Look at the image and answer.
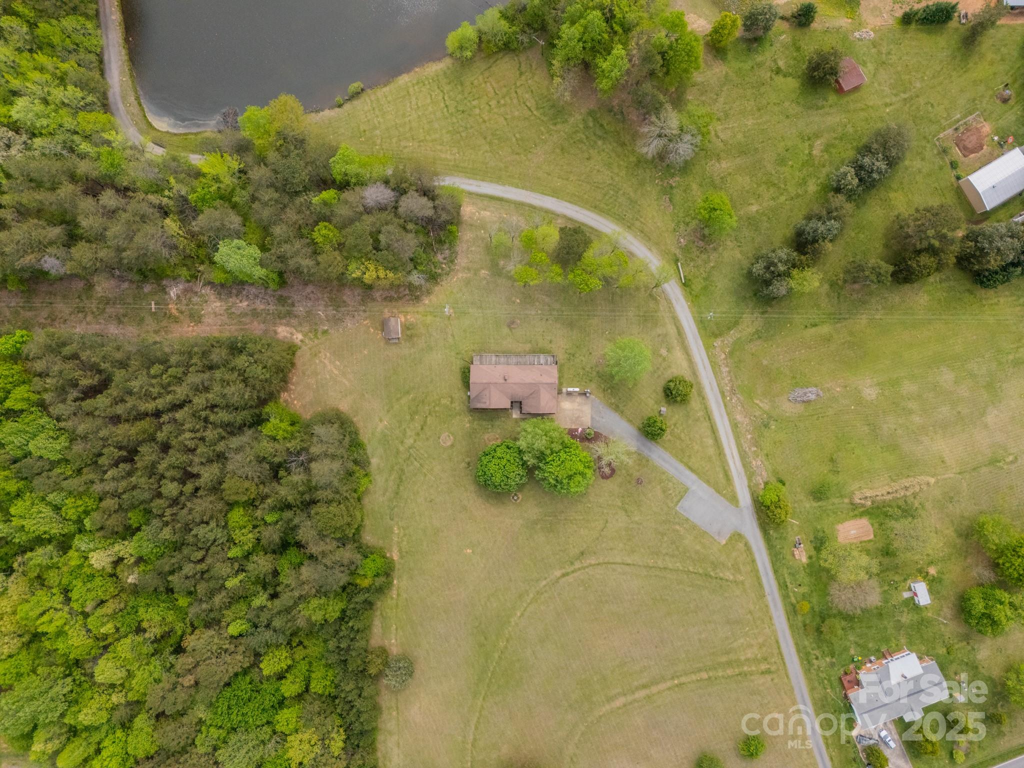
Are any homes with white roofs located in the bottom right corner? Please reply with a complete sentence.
Yes, a home with a white roof shows up in the bottom right corner.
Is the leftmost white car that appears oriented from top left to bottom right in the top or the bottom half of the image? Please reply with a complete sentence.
It is in the bottom half that the leftmost white car that appears oriented from top left to bottom right appears.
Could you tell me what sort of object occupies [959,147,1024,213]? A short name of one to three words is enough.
barn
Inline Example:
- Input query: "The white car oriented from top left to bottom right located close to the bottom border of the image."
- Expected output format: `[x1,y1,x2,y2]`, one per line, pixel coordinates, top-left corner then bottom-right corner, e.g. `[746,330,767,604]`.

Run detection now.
[879,728,901,753]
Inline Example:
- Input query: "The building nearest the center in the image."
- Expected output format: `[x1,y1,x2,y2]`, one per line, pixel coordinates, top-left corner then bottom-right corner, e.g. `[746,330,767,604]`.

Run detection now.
[470,353,558,414]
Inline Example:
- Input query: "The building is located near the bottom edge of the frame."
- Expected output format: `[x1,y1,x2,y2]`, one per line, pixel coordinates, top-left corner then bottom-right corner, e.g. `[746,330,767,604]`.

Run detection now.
[834,641,949,730]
